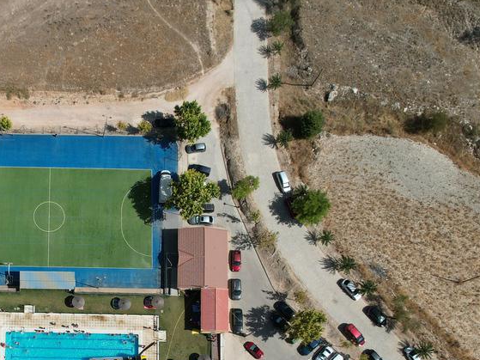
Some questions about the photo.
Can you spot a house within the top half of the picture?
No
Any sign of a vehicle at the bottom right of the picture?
Yes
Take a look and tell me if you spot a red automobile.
Yes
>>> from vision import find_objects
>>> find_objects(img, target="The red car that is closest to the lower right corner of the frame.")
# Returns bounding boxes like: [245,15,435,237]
[343,321,365,346]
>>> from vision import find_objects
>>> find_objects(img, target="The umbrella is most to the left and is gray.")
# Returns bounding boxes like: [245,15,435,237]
[72,297,85,309]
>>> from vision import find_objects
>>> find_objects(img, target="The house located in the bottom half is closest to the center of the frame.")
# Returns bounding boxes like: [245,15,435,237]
[177,228,229,291]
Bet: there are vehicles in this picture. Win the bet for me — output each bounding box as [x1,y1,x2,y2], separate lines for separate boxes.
[160,173,173,205]
[197,202,219,214]
[231,277,243,301]
[296,339,323,359]
[189,163,213,178]
[331,354,345,360]
[271,299,296,319]
[281,331,302,348]
[366,347,383,360]
[286,191,301,213]
[232,308,244,333]
[188,214,215,227]
[267,312,291,332]
[340,279,363,302]
[243,340,265,360]
[364,303,390,328]
[312,344,335,360]
[275,170,292,195]
[402,344,422,360]
[231,249,242,273]
[343,321,365,346]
